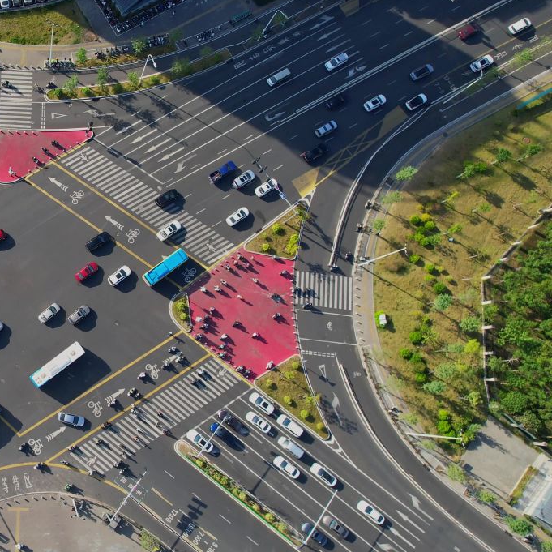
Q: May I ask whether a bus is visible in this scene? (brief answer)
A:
Yes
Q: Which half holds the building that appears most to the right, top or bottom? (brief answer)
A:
bottom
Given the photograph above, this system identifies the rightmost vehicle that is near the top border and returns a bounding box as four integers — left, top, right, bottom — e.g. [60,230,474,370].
[508,19,530,34]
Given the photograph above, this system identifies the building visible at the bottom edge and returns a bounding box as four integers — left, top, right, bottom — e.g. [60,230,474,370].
[518,478,552,544]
